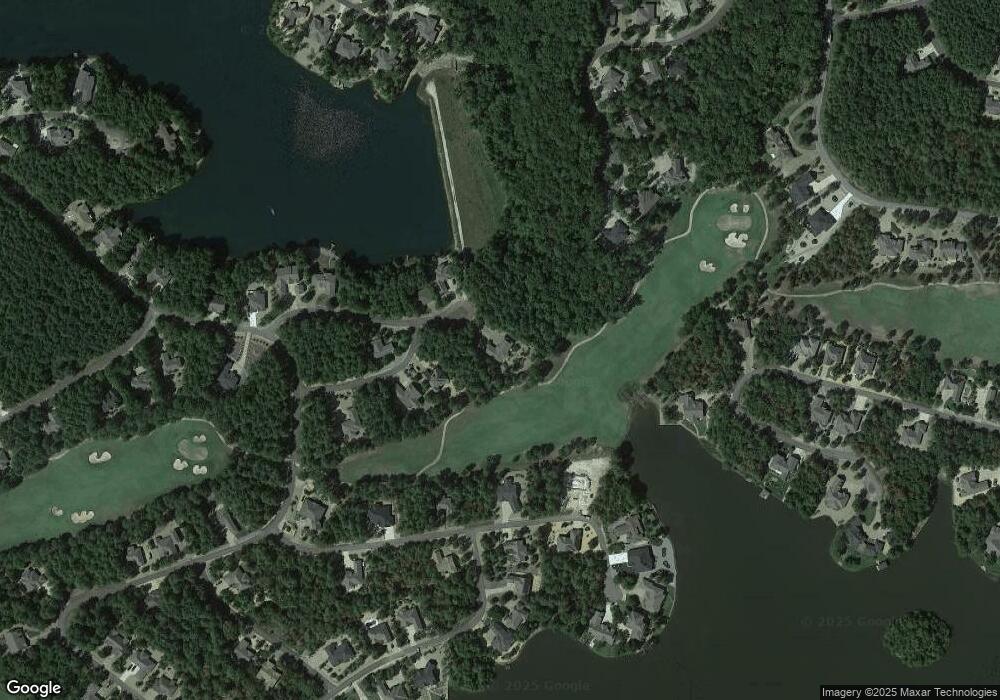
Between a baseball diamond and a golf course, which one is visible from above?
golf course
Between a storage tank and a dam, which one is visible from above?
dam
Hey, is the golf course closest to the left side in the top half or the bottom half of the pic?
bottom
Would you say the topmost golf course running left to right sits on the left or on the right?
right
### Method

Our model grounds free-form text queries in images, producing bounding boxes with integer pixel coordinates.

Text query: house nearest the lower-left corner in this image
[4,631,27,653]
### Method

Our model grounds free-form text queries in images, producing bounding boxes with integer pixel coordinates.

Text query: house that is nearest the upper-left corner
[9,75,29,99]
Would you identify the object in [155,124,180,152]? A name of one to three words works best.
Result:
house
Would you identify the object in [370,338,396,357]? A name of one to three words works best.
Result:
house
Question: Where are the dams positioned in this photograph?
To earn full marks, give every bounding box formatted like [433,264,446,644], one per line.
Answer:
[416,64,504,250]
